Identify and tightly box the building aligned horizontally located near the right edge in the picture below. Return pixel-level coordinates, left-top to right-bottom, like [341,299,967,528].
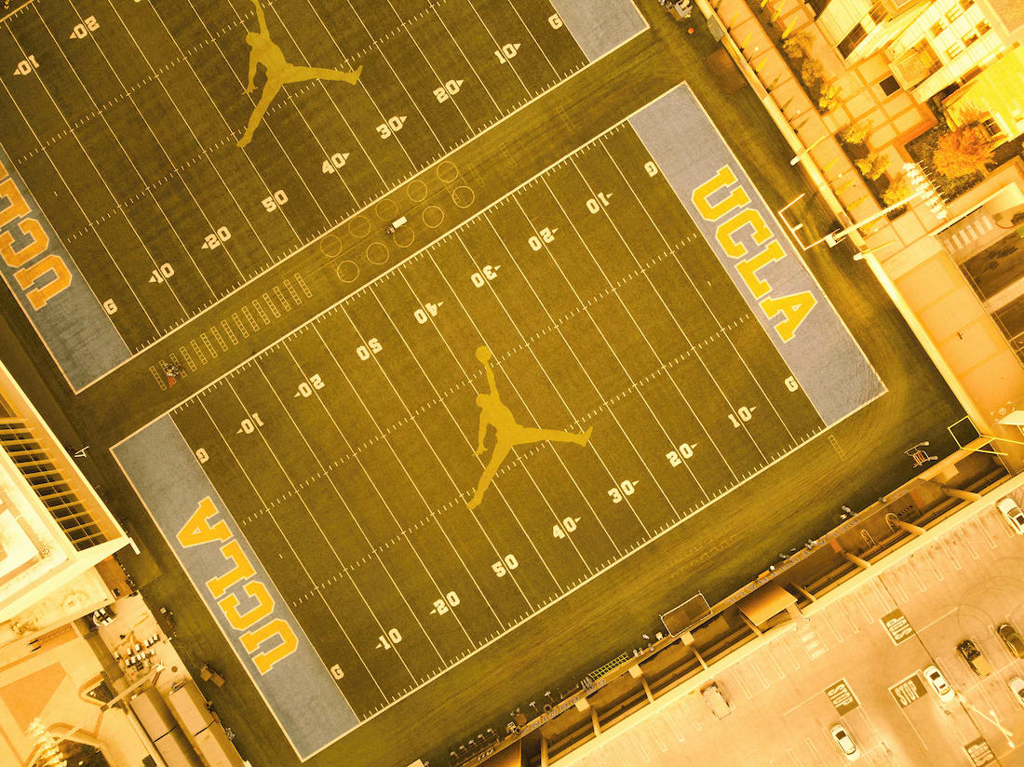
[795,0,1024,105]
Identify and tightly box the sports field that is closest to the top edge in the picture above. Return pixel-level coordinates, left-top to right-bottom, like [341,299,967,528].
[0,0,651,395]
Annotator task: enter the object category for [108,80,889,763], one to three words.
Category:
sports field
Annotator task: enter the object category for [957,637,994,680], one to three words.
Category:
truck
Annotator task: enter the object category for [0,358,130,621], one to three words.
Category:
building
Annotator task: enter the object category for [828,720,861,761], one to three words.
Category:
car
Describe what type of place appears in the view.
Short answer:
sports ground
